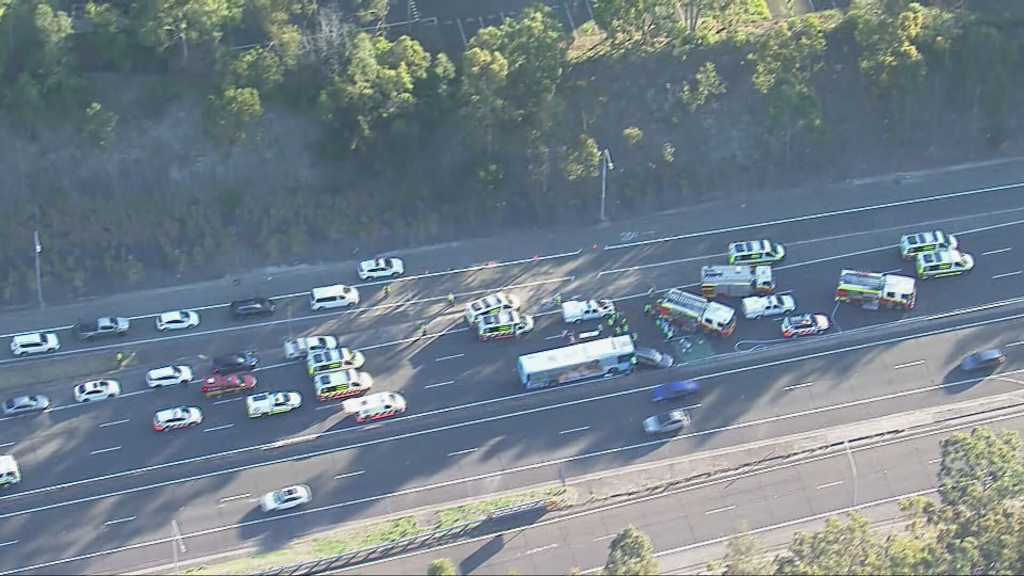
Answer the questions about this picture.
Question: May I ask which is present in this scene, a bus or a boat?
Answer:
bus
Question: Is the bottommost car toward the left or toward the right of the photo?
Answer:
left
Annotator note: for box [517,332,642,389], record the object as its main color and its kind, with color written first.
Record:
white bus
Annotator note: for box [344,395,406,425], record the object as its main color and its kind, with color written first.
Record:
white van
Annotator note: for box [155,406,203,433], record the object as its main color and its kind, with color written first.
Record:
white car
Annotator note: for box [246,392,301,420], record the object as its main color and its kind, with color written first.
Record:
white truck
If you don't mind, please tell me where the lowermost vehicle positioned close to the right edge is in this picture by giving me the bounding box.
[959,350,1004,374]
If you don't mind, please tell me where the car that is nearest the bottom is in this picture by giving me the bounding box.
[260,486,311,514]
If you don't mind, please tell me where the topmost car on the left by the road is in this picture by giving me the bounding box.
[358,257,404,282]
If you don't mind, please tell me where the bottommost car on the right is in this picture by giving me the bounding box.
[643,410,690,436]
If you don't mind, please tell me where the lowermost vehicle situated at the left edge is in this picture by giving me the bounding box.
[0,455,24,484]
